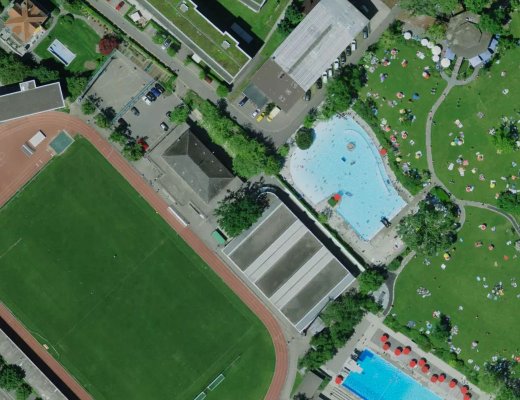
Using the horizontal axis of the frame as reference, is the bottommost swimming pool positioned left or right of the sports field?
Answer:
to the right of it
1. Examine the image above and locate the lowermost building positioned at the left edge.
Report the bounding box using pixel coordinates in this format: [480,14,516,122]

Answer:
[0,80,65,123]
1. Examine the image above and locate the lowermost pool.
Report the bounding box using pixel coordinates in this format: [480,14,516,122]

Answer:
[340,346,454,400]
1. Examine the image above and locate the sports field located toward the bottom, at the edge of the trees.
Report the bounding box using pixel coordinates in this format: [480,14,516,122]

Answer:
[0,132,276,400]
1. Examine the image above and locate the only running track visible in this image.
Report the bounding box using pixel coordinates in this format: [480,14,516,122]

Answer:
[0,108,289,400]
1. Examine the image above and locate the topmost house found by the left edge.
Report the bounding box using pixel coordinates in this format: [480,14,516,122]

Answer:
[1,0,48,56]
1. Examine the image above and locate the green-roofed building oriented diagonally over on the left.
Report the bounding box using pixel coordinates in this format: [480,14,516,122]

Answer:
[135,0,252,83]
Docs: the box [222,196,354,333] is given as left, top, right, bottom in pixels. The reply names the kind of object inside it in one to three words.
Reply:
building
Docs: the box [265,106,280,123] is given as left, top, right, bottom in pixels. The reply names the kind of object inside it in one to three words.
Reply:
vehicle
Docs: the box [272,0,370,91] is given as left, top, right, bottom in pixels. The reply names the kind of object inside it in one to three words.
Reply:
building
